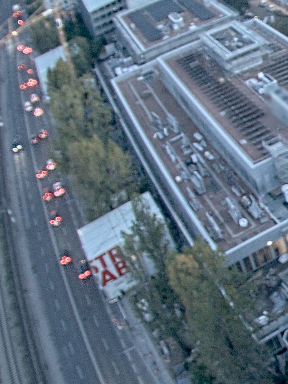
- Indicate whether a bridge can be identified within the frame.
No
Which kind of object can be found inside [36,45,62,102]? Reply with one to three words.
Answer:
shed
